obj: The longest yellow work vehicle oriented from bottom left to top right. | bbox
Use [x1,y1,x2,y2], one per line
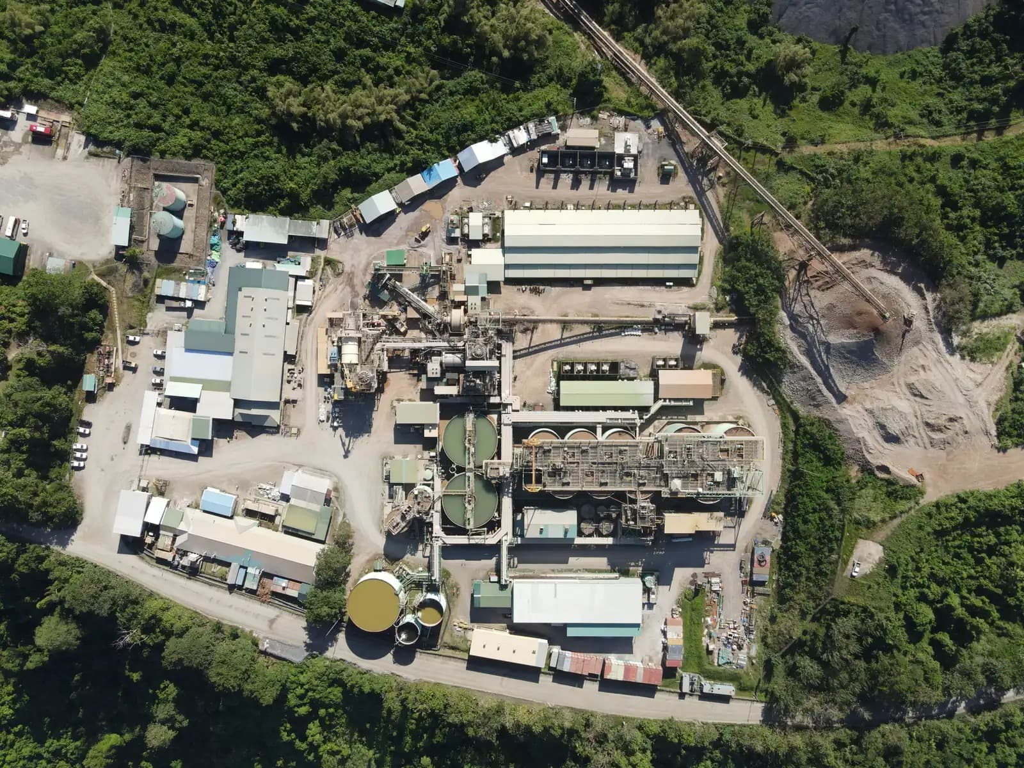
[412,221,432,240]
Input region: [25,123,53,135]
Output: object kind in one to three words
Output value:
vehicle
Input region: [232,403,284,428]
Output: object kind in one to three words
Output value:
building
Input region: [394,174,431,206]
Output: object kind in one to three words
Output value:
shed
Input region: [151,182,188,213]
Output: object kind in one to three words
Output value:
storage tank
